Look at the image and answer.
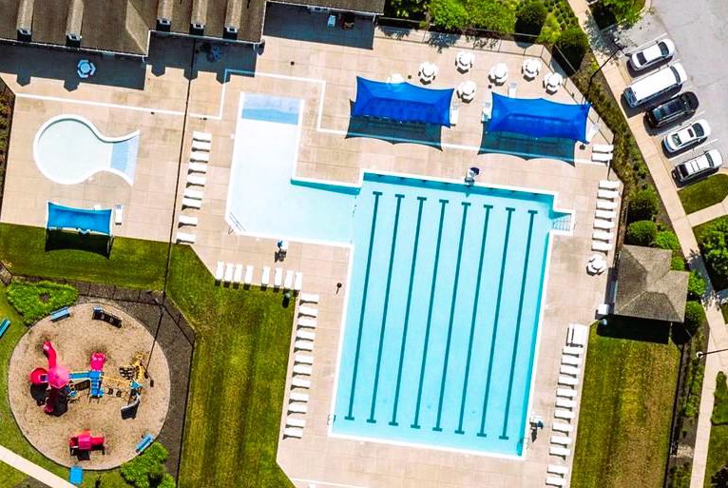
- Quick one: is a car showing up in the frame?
Yes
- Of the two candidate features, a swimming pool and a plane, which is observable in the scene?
swimming pool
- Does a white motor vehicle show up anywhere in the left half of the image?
No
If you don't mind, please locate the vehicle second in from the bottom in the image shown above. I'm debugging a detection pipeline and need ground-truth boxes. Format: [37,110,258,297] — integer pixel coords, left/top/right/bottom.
[660,118,711,154]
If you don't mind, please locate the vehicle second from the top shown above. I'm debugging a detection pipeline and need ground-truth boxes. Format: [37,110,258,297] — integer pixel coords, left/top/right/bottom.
[623,64,688,108]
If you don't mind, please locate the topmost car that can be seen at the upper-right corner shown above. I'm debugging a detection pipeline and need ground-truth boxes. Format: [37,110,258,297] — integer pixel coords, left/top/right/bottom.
[627,38,675,74]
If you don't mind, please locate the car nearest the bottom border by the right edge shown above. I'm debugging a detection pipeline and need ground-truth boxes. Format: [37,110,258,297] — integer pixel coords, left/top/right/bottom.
[671,147,724,184]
